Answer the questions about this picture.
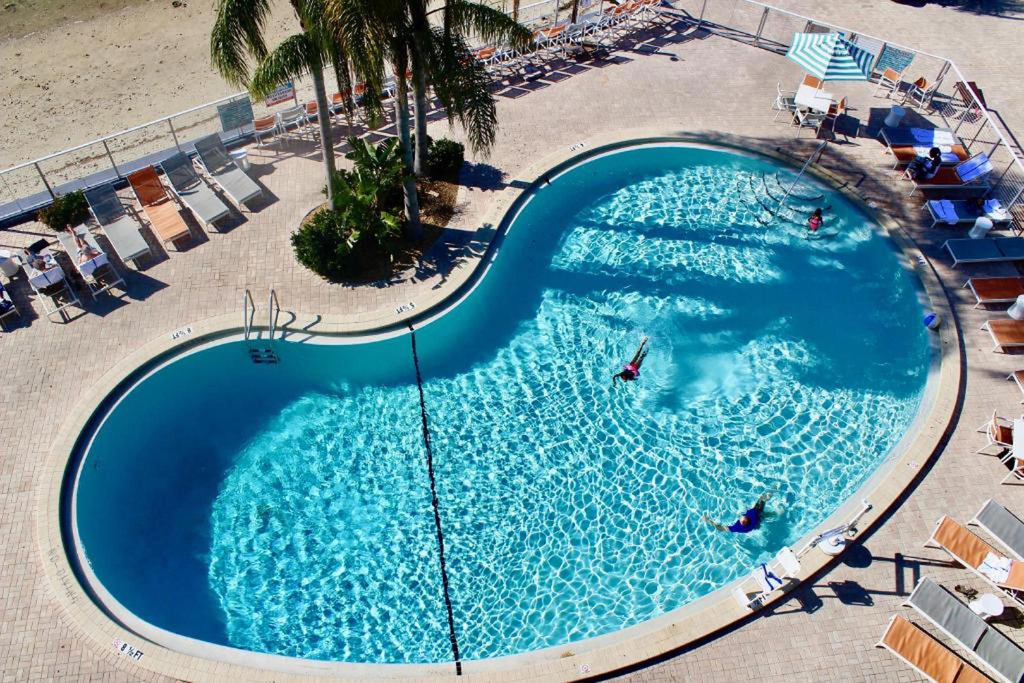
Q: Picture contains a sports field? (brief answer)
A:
No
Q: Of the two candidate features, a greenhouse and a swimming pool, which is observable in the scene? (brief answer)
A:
swimming pool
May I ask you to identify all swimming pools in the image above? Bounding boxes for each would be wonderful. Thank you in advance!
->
[77,147,927,667]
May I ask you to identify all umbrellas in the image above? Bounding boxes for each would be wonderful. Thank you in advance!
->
[786,27,874,97]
